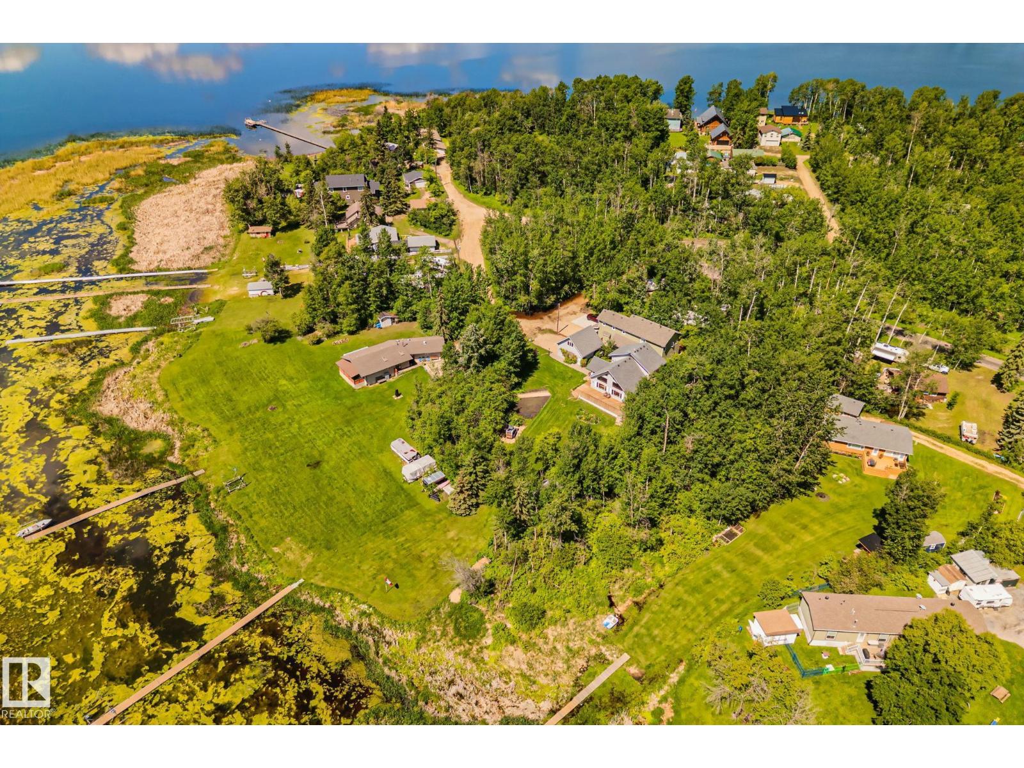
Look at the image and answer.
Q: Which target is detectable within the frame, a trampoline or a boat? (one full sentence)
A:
This aerial view contains a boat.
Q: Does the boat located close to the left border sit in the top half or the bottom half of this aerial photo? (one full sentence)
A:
It is in the bottom half that the boat located close to the left border appears.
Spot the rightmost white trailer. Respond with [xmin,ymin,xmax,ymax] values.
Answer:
[961,584,1012,612]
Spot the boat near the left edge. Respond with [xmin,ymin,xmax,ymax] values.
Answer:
[13,518,53,539]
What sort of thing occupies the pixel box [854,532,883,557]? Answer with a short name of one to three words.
gazebo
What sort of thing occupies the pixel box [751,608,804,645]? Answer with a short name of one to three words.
shed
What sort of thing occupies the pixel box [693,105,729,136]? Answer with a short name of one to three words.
house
